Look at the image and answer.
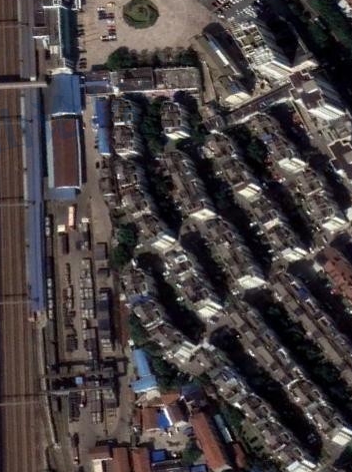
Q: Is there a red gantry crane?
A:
No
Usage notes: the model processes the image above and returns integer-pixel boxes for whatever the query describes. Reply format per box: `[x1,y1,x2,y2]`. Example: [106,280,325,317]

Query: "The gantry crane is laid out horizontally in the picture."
[43,370,114,400]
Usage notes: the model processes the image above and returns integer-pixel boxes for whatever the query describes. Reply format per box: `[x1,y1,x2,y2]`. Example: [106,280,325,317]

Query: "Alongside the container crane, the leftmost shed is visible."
[99,291,113,351]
